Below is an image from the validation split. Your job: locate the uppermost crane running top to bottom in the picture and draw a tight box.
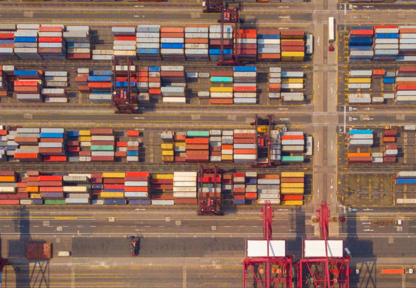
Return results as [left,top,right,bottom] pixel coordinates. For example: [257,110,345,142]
[218,9,244,66]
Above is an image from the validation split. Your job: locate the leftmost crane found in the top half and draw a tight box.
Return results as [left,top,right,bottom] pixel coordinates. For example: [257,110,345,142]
[110,57,141,113]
